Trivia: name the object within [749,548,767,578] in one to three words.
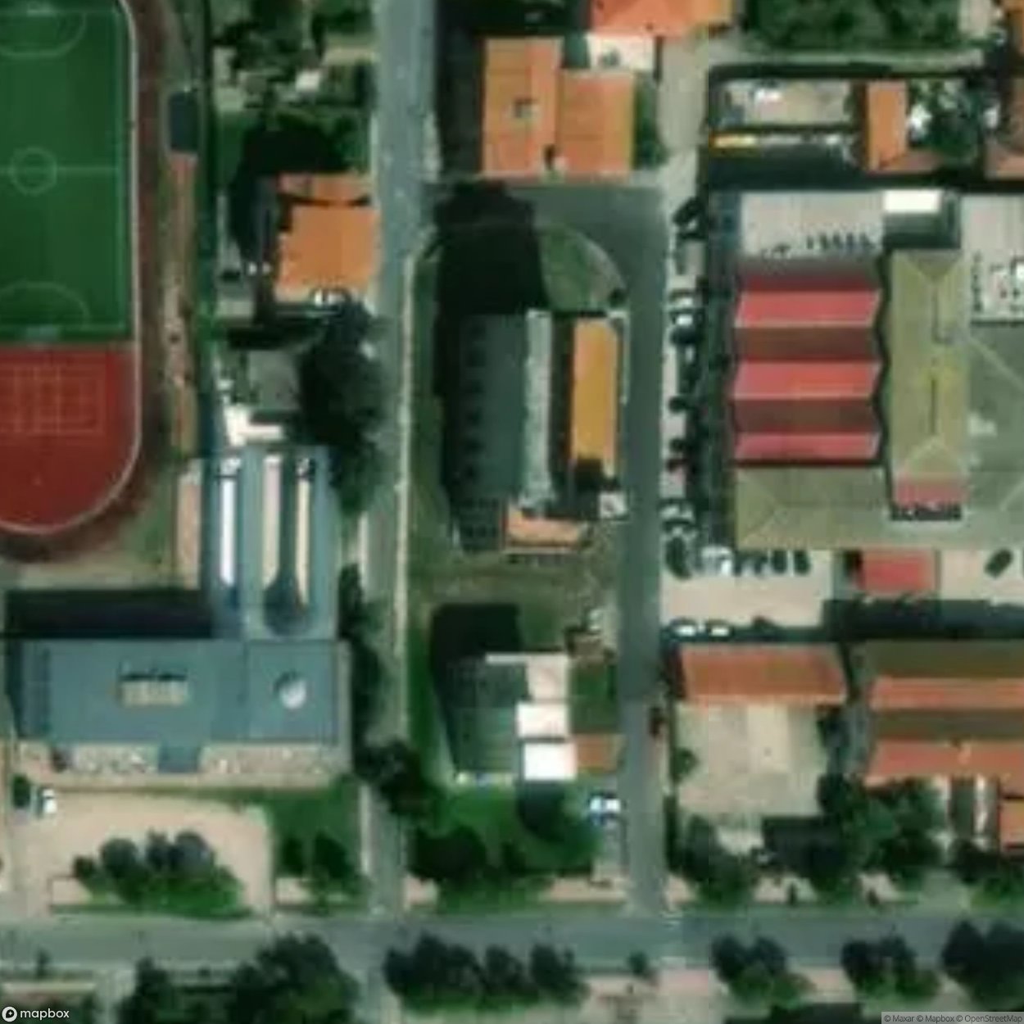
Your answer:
car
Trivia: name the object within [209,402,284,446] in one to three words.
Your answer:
shed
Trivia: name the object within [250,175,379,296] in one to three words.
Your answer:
house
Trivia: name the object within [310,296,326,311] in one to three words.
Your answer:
car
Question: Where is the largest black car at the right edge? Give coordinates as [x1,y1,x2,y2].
[984,549,1011,578]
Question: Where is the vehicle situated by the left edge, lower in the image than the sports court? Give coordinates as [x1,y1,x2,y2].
[39,786,57,816]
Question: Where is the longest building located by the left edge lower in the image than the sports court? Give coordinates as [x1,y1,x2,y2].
[22,641,336,772]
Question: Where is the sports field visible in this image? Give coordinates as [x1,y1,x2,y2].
[0,0,133,343]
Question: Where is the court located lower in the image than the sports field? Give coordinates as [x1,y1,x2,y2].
[0,350,133,531]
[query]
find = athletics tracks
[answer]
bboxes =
[0,0,172,568]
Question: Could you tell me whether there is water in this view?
No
